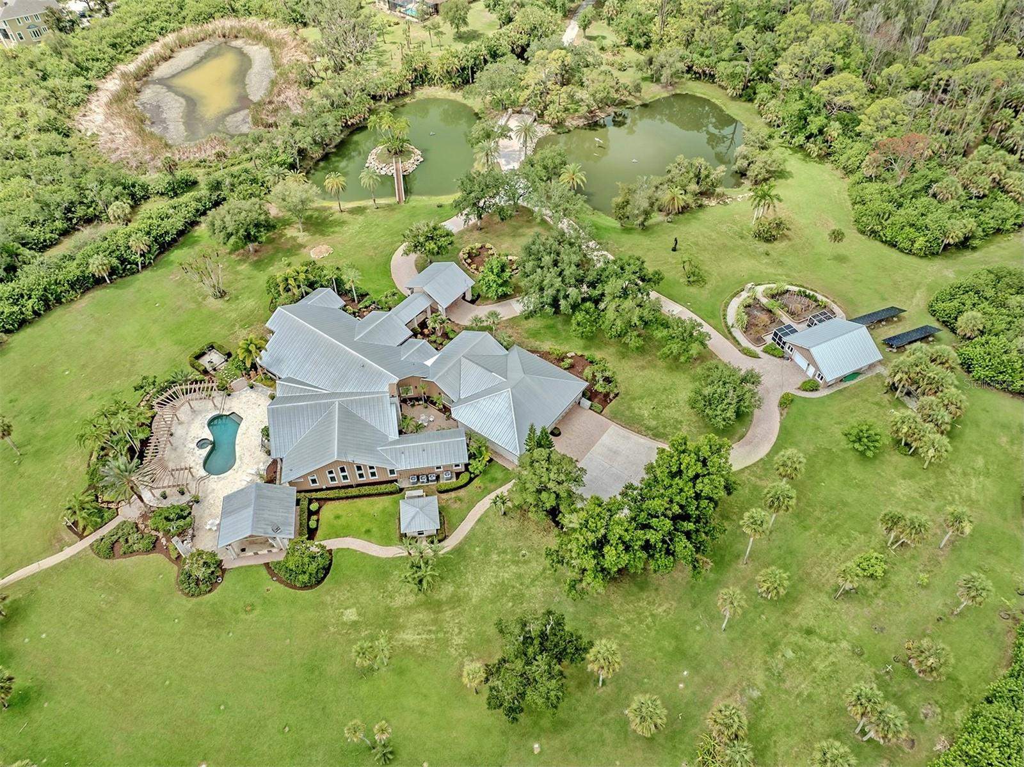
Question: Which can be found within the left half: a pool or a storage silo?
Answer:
pool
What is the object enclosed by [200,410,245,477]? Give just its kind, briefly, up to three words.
swimming pool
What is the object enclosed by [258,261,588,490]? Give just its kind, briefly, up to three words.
house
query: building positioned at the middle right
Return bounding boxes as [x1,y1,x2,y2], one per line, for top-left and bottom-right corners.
[783,318,882,393]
